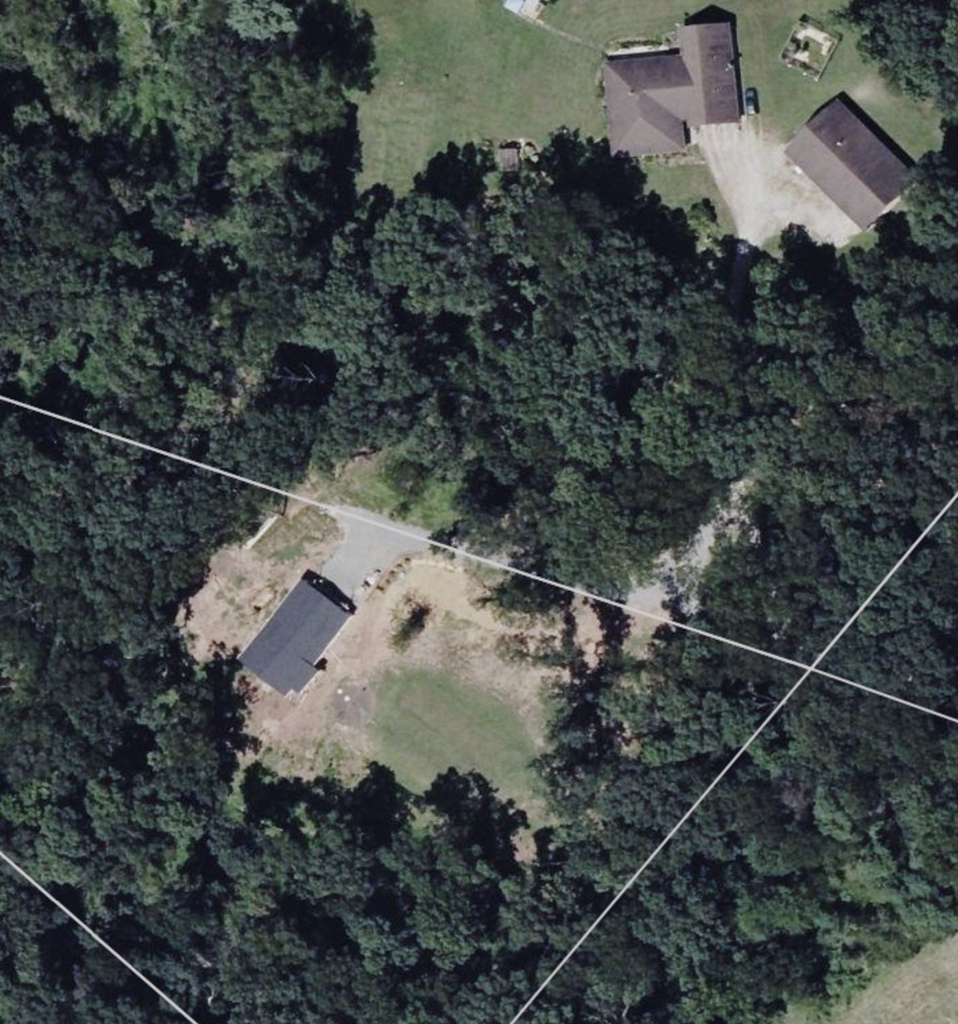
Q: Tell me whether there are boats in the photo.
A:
No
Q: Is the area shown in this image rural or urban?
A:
rural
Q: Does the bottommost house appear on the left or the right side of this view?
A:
left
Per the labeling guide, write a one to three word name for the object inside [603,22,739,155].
house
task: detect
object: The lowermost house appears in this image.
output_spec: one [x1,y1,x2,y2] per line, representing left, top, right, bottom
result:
[238,580,354,697]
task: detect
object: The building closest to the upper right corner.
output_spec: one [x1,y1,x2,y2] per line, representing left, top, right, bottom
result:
[785,99,916,230]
